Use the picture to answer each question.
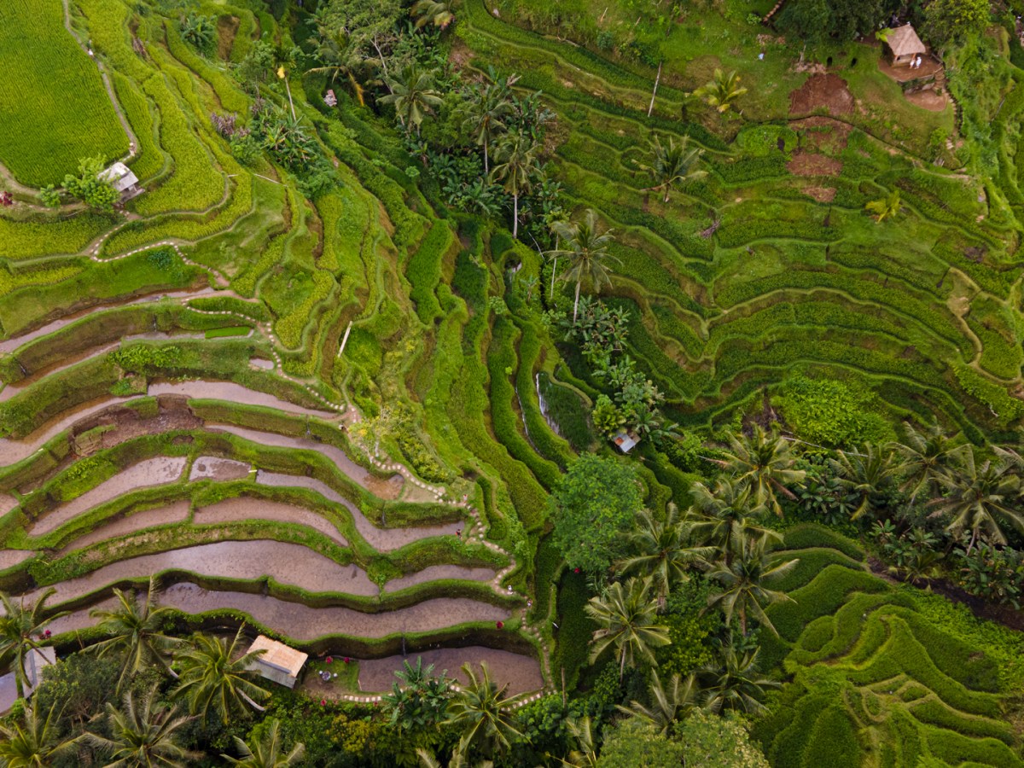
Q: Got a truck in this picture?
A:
No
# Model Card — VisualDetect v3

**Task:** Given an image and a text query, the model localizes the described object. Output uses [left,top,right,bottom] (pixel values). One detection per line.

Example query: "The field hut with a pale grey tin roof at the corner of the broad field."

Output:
[104,167,147,203]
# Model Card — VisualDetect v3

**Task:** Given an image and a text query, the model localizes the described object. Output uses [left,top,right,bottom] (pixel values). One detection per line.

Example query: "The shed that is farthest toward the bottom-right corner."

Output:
[613,432,649,459]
